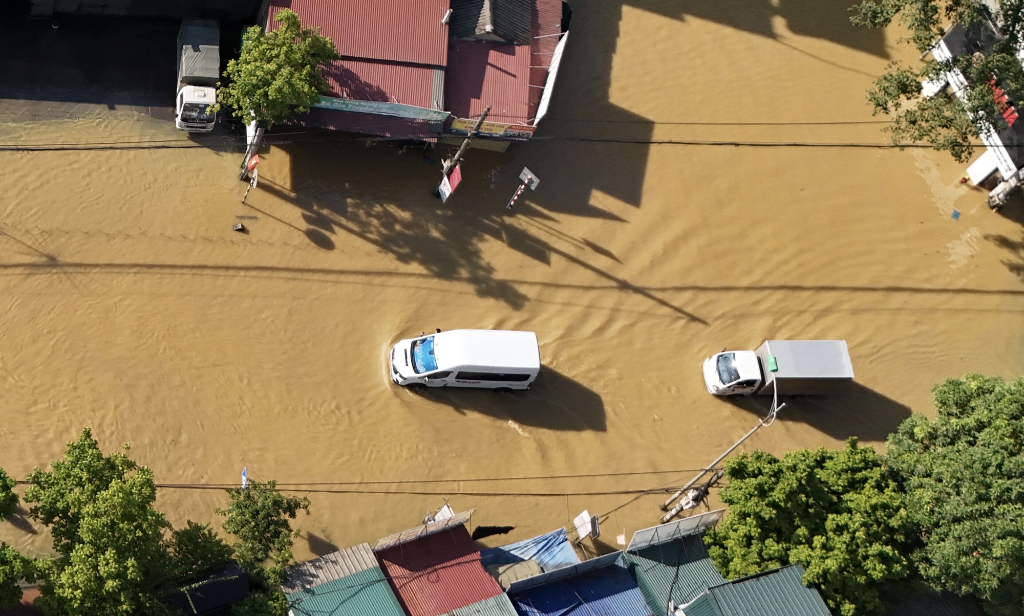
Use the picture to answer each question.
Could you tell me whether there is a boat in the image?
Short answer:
No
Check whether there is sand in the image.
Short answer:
No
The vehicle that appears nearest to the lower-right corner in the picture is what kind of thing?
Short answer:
truck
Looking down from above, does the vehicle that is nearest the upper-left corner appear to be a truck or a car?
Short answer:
truck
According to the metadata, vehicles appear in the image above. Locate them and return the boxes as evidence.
[388,329,543,395]
[704,339,859,401]
[173,16,226,135]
